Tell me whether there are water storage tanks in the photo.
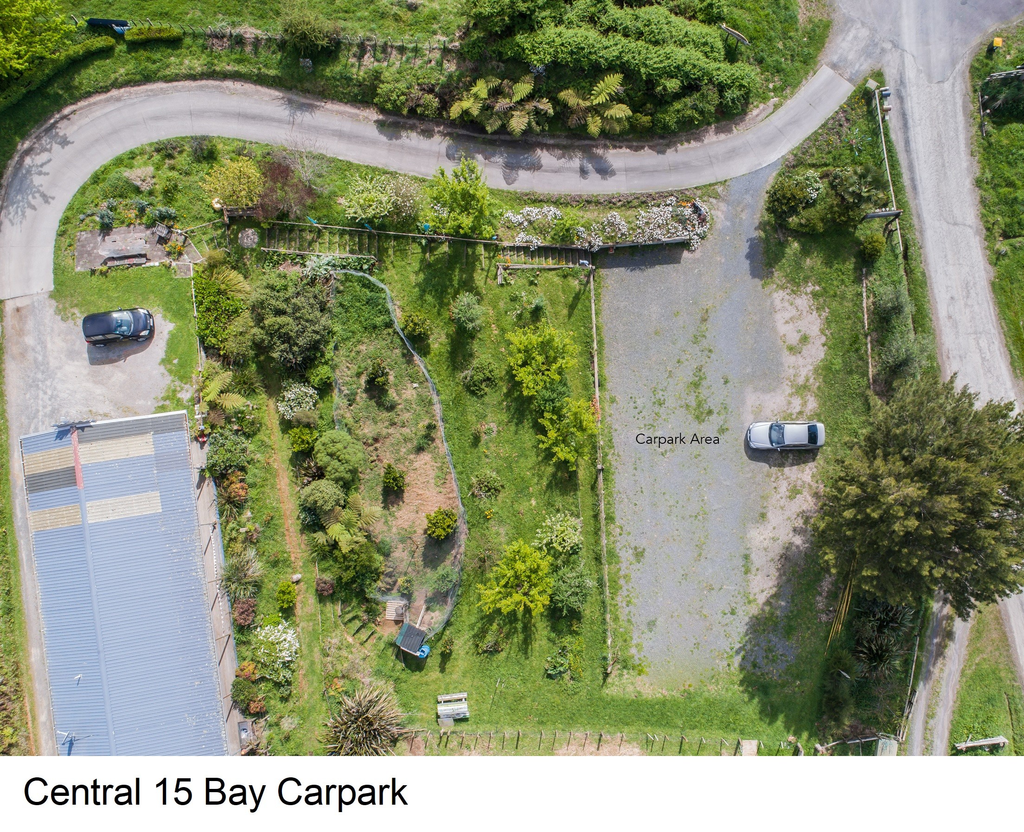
No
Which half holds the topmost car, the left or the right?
left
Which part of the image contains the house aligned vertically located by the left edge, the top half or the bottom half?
bottom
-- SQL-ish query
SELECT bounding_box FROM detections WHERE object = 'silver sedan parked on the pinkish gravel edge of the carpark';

[748,415,830,453]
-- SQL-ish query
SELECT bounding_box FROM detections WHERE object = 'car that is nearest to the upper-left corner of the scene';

[77,308,155,346]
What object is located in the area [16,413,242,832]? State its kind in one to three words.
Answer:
house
